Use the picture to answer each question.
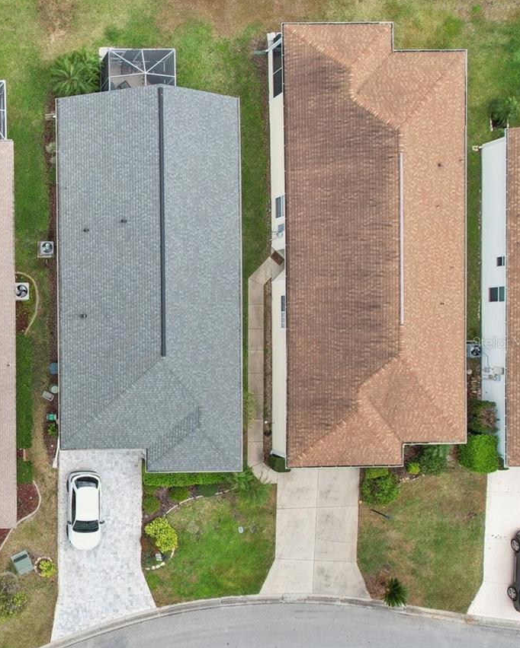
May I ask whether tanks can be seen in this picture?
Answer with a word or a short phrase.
No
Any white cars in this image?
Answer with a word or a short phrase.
Yes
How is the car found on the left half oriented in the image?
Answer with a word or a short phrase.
vertically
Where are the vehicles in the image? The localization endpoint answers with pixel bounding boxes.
[65,474,105,552]
[507,530,520,615]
